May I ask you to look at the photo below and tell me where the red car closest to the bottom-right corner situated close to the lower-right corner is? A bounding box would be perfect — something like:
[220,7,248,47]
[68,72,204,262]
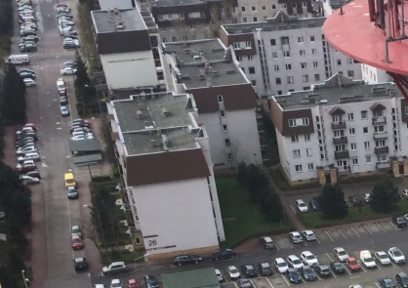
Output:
[344,255,361,271]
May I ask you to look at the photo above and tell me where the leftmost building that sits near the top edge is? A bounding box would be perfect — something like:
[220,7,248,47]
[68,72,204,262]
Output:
[83,0,166,95]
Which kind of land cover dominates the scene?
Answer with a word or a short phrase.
buildings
